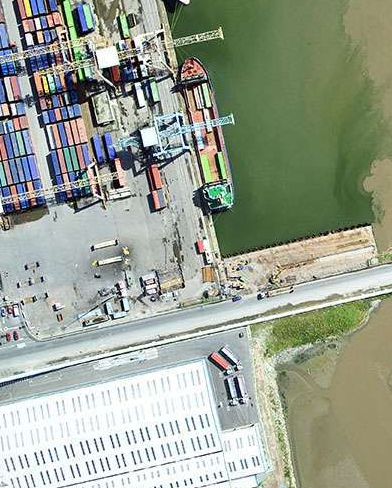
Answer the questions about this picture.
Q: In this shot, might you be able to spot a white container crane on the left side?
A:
Yes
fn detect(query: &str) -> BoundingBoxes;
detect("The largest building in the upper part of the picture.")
[93,91,117,125]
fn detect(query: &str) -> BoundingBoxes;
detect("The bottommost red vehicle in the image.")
[208,353,231,375]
